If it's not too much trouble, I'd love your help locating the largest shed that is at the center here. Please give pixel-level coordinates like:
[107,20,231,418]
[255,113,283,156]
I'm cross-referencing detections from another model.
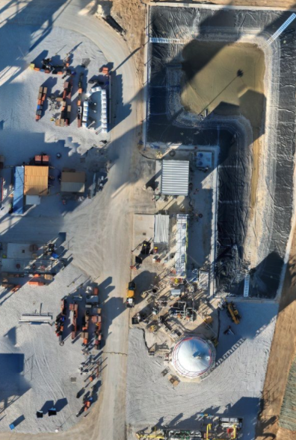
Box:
[160,160,189,196]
